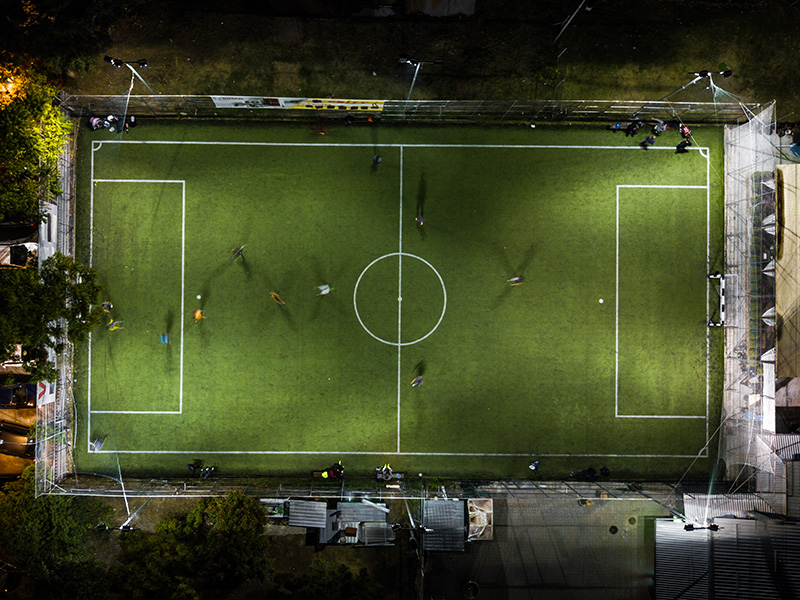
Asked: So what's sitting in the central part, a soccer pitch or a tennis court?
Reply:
soccer pitch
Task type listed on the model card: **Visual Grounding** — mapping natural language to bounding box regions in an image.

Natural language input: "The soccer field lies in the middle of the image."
[74,120,724,480]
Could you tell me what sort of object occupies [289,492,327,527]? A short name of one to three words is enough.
shed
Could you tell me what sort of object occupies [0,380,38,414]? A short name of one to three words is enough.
car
